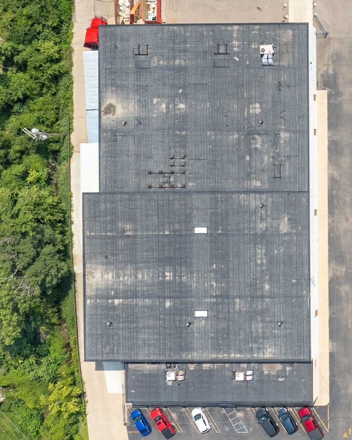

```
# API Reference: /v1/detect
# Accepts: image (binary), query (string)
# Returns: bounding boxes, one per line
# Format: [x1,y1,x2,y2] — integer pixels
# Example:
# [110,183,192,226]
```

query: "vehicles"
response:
[279,407,299,436]
[150,407,177,440]
[257,407,280,438]
[298,407,325,440]
[131,408,152,438]
[79,16,110,50]
[191,407,211,436]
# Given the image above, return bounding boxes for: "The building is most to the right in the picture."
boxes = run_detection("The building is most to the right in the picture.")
[81,23,319,406]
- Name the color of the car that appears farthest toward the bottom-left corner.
blue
